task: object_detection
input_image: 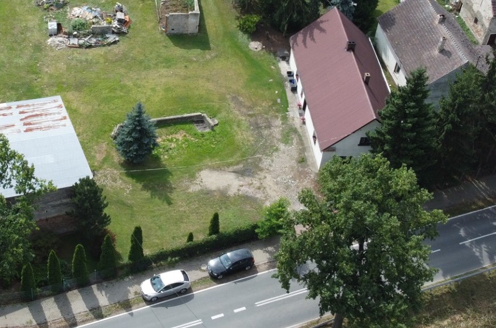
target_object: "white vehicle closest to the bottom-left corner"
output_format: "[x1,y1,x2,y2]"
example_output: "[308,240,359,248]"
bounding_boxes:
[139,266,192,300]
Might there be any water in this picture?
No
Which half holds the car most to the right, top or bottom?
bottom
